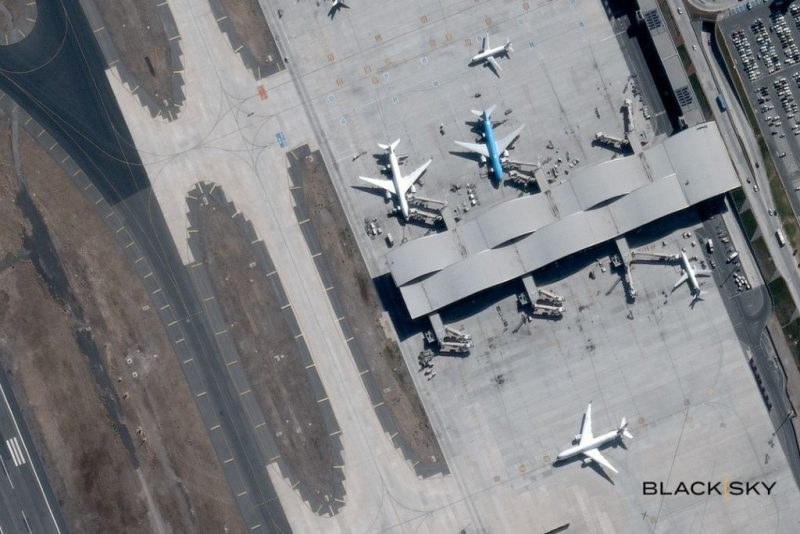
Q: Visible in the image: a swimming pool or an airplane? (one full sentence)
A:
Of the two, only an airplane appears.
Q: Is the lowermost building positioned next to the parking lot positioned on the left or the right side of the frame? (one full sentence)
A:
It is on the right.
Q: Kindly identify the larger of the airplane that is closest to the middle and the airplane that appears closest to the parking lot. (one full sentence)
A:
Of the two, the airplane that is closest to the middle is bigger, while the airplane that appears closest to the parking lot is smaller.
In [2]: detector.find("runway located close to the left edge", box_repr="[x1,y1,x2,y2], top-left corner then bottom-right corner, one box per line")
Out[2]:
[0,362,68,534]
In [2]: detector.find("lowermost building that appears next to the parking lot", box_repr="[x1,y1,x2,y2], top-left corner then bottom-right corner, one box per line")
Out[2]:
[387,120,741,319]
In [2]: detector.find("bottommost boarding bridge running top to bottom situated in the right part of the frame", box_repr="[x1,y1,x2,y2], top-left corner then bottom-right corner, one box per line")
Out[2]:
[626,264,638,300]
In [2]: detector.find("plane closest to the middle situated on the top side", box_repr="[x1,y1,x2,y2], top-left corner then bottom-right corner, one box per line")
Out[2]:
[358,140,434,220]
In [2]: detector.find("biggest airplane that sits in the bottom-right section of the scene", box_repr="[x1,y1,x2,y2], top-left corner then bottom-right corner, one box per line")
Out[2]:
[558,404,633,472]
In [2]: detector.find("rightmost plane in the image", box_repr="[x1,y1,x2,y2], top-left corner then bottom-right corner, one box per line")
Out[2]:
[669,252,716,301]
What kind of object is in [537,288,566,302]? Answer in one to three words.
jet bridge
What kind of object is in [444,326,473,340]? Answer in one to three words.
jet bridge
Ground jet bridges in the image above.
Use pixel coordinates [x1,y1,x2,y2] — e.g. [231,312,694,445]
[537,288,566,302]
[410,197,449,208]
[630,250,683,262]
[626,264,638,300]
[533,303,566,313]
[439,340,473,349]
[500,157,541,169]
[506,169,536,183]
[409,207,443,219]
[444,326,473,340]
